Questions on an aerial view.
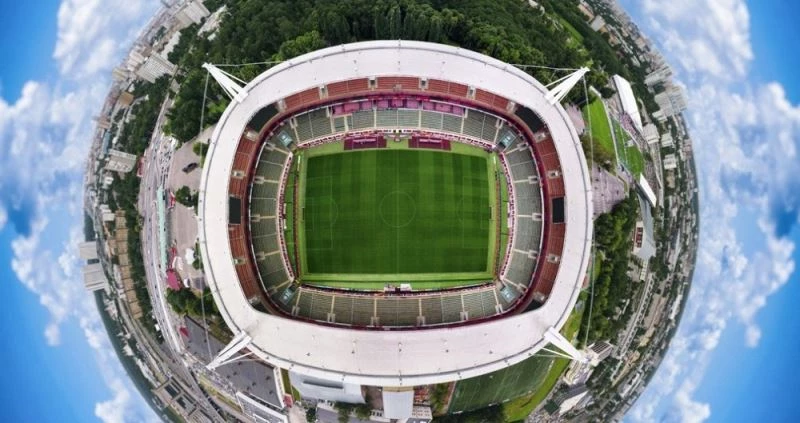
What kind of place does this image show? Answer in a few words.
sports ground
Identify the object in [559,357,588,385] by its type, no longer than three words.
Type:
building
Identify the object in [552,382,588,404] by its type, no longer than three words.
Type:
shed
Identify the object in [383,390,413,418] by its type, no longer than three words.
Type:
building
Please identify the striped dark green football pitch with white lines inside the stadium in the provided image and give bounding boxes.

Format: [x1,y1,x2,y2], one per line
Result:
[279,131,513,295]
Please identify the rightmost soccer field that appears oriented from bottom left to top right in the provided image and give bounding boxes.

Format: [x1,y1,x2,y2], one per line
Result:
[449,320,580,423]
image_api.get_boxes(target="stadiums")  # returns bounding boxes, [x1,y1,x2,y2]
[197,40,594,390]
